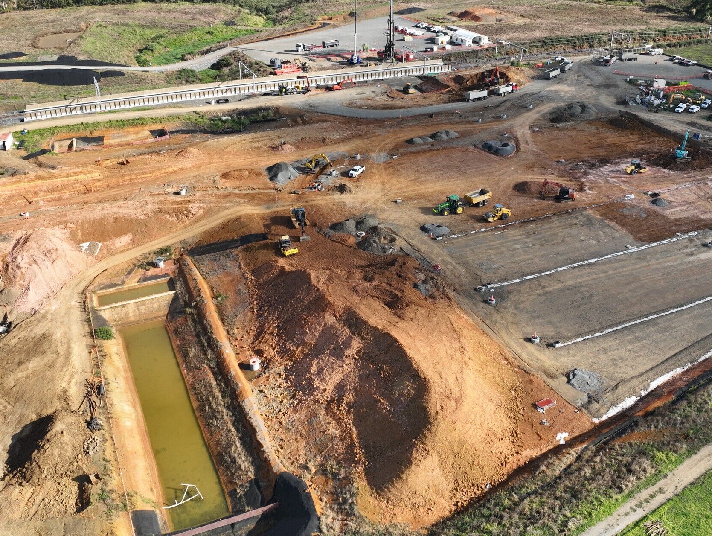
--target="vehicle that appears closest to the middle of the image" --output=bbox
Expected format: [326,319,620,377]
[294,208,311,234]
